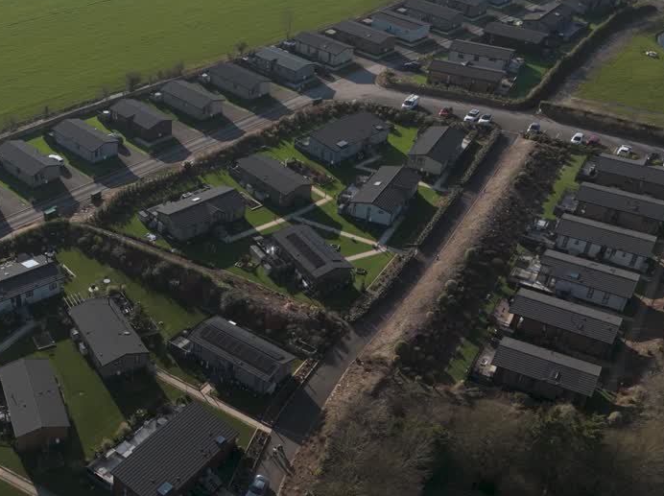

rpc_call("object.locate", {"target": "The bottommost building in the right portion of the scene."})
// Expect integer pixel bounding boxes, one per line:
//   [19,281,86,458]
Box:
[458,337,600,407]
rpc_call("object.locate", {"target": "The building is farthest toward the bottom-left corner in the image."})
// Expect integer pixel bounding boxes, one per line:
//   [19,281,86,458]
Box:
[0,358,71,449]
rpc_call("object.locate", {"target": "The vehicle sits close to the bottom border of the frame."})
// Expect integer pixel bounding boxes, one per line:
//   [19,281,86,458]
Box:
[245,473,270,496]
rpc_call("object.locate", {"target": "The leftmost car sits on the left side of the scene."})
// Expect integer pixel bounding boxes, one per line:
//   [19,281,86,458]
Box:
[49,152,67,167]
